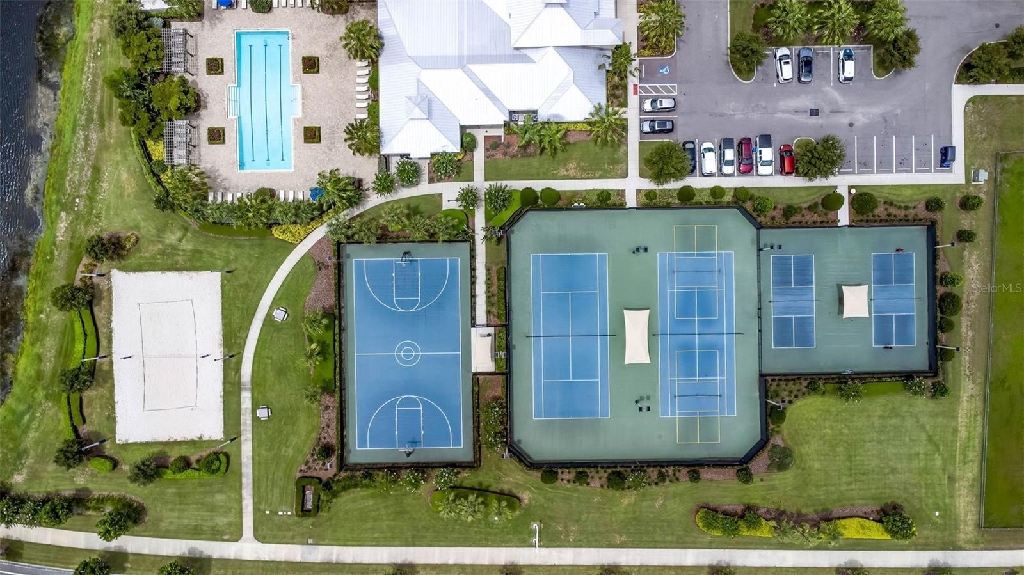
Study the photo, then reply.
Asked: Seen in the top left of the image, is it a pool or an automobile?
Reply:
pool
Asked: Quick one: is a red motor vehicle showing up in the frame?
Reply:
Yes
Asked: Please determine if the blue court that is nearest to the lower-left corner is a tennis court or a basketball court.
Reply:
basketball court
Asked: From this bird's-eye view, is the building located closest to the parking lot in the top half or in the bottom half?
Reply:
top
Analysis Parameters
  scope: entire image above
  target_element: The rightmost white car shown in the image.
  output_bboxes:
[837,49,855,83]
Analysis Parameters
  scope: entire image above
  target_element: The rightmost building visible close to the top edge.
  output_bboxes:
[378,0,622,156]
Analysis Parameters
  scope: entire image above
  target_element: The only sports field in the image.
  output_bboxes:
[984,151,1024,529]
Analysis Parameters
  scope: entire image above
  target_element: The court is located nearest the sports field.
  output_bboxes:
[872,253,916,346]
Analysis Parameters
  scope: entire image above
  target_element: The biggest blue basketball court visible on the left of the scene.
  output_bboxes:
[353,257,462,450]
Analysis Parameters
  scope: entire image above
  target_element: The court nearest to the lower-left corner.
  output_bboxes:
[110,269,224,443]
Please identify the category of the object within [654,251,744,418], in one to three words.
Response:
tennis court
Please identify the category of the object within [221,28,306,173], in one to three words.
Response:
swimming pool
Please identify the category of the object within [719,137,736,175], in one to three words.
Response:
vehicle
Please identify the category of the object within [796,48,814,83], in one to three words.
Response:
car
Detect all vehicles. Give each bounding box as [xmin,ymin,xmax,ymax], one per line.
[719,137,736,175]
[755,133,774,175]
[837,49,855,83]
[699,143,716,176]
[778,144,795,176]
[736,137,754,174]
[774,48,792,83]
[640,118,674,134]
[939,145,956,167]
[642,96,676,112]
[796,48,814,83]
[682,141,698,175]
